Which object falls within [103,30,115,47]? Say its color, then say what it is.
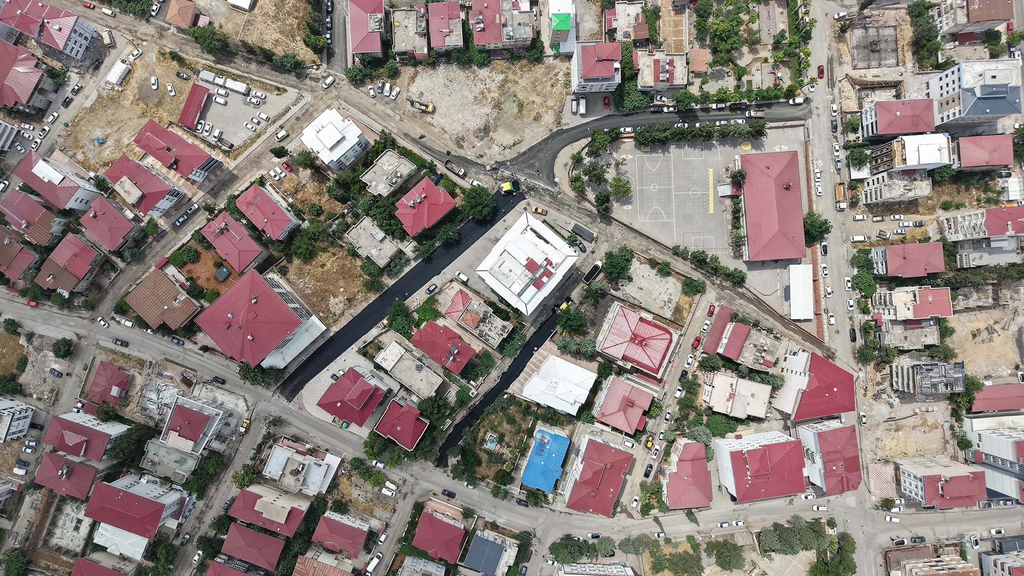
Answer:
white vehicle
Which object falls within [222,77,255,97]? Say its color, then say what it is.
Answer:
white vehicle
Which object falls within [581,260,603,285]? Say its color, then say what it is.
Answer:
black truck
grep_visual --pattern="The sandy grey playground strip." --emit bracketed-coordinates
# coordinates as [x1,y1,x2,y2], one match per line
[759,0,788,45]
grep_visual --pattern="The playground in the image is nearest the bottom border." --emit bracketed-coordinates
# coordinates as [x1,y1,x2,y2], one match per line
[761,61,791,88]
